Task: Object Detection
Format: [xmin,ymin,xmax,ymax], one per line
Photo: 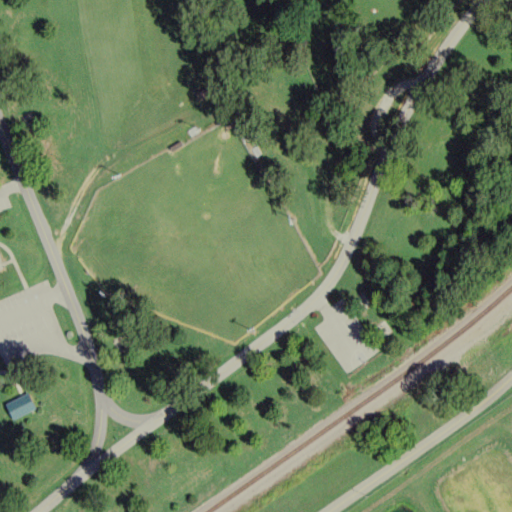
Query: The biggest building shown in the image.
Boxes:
[6,396,34,420]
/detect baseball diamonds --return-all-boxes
[70,123,323,346]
